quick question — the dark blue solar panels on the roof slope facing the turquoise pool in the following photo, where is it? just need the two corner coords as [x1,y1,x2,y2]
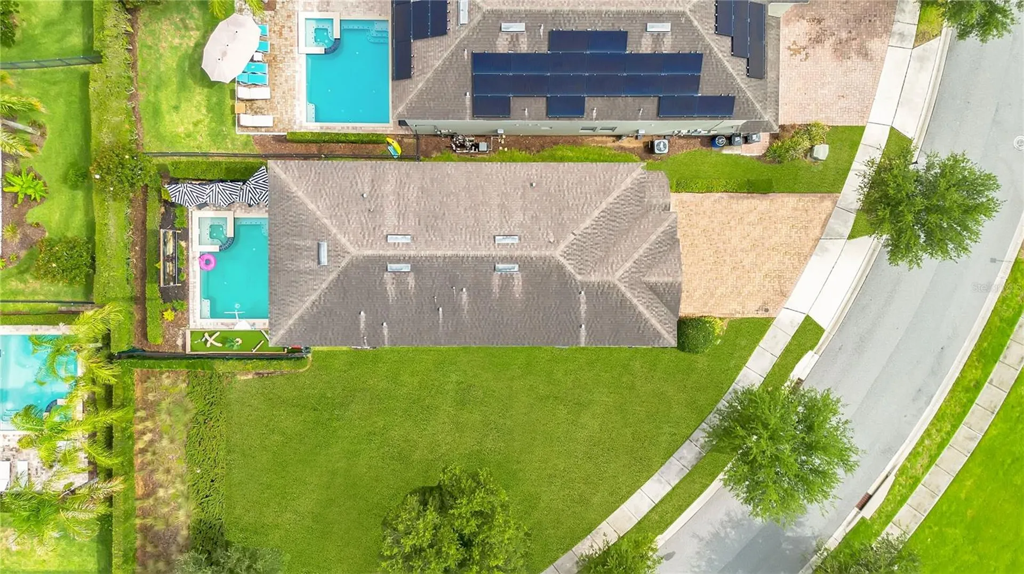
[394,0,448,79]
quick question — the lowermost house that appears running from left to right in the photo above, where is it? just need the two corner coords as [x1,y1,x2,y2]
[267,160,683,348]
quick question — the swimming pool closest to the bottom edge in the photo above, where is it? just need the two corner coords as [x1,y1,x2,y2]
[0,328,87,433]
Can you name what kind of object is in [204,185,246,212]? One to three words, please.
umbrella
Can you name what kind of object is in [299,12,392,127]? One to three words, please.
swimming pool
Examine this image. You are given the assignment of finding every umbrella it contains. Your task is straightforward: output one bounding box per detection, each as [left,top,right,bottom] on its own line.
[204,185,246,212]
[242,175,268,215]
[201,13,262,83]
[167,185,209,211]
